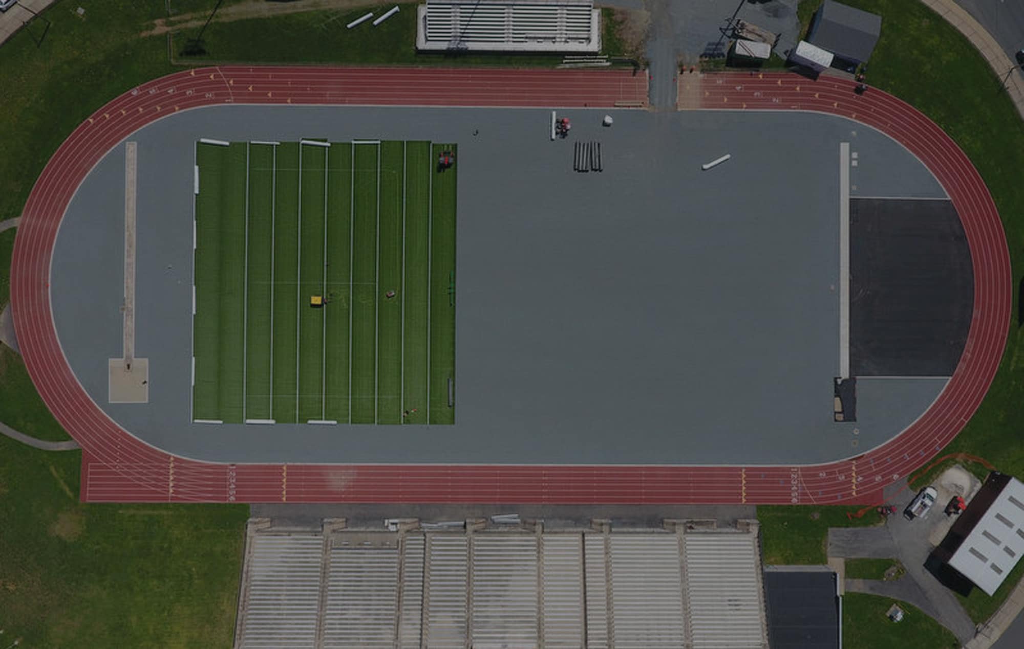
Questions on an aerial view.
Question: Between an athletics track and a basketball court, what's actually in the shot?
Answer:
athletics track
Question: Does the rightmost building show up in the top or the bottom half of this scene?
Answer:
bottom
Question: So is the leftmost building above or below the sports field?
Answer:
below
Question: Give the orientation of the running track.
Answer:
from side to side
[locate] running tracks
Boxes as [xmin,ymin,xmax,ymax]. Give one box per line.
[10,65,1013,505]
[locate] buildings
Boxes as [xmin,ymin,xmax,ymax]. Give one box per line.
[931,469,1024,597]
[762,565,843,649]
[806,0,882,66]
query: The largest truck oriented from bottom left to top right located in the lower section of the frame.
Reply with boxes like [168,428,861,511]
[905,485,935,521]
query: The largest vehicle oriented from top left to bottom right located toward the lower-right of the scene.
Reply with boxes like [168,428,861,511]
[938,492,967,514]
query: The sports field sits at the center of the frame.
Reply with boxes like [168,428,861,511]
[51,105,948,464]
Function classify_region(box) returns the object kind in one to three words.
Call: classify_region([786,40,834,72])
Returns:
trailer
